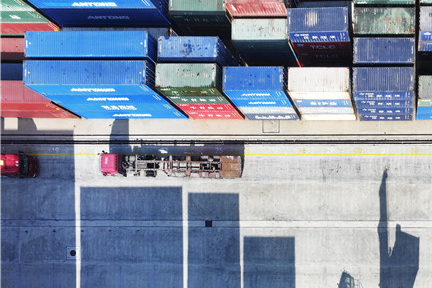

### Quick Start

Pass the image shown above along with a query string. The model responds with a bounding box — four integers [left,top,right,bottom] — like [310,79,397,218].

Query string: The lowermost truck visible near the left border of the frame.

[0,154,45,180]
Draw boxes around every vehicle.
[0,154,45,180]
[102,151,243,179]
